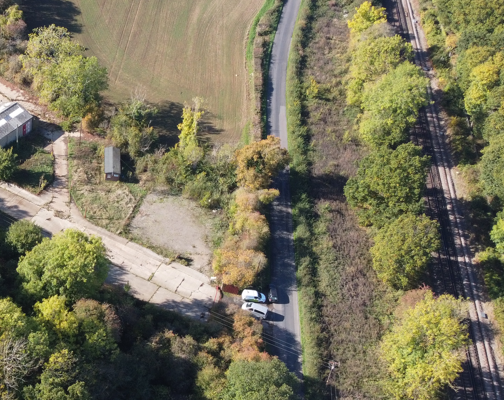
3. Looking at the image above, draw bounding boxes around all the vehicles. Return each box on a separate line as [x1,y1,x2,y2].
[264,284,282,305]
[240,303,270,321]
[241,289,267,304]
